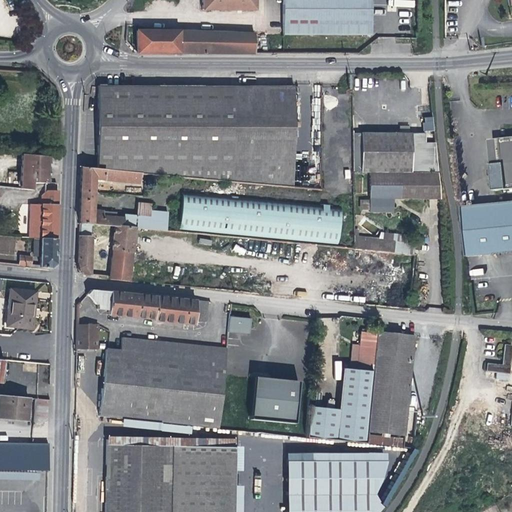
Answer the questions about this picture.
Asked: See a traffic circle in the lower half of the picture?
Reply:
No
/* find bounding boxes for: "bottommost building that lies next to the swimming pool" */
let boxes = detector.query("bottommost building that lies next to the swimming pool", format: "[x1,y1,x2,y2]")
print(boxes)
[355,232,412,255]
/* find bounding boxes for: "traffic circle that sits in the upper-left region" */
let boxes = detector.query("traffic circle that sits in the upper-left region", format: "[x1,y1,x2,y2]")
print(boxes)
[42,22,96,76]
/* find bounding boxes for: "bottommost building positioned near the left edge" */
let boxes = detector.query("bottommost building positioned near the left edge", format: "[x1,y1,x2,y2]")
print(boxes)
[0,441,50,480]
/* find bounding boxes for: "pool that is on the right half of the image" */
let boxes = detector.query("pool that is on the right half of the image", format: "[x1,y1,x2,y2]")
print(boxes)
[358,217,384,233]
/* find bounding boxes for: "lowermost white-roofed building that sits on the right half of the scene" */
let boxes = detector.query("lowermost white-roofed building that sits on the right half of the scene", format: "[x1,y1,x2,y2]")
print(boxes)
[288,452,388,512]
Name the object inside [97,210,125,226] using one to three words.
shed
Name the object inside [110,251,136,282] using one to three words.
house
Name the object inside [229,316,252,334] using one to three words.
building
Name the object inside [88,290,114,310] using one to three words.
building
